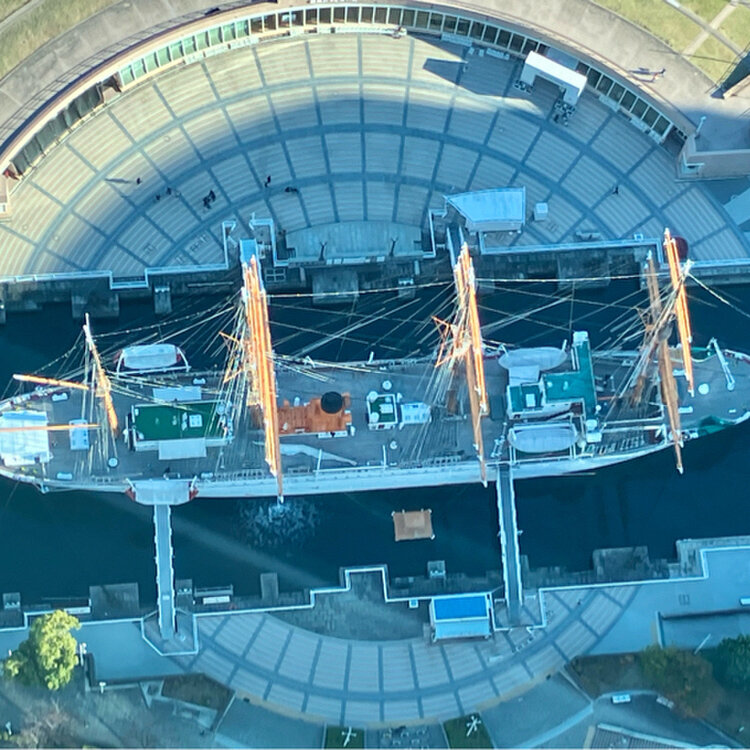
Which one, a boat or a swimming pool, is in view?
boat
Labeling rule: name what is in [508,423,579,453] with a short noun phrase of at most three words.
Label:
boat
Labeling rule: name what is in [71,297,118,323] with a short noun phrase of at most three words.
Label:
pier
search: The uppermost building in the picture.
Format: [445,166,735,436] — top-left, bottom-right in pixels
[0,0,688,193]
